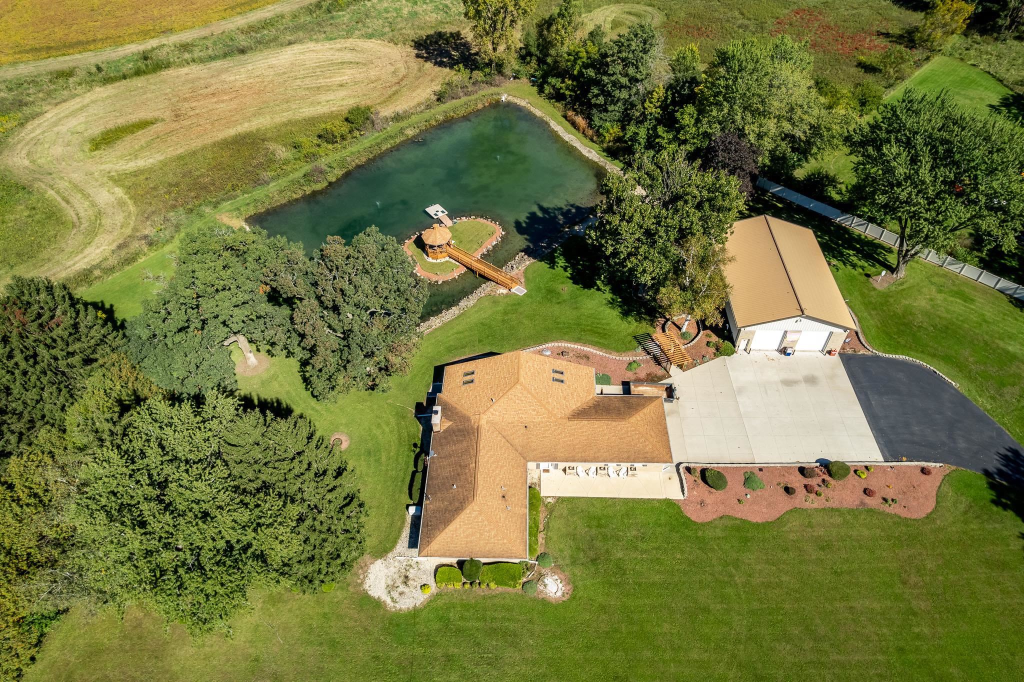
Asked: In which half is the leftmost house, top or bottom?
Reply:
bottom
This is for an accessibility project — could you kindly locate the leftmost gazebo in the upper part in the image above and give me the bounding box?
[421,225,453,259]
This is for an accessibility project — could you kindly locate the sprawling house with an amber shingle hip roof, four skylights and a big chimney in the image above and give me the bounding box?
[416,350,675,565]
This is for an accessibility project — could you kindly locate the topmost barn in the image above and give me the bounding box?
[709,214,857,352]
